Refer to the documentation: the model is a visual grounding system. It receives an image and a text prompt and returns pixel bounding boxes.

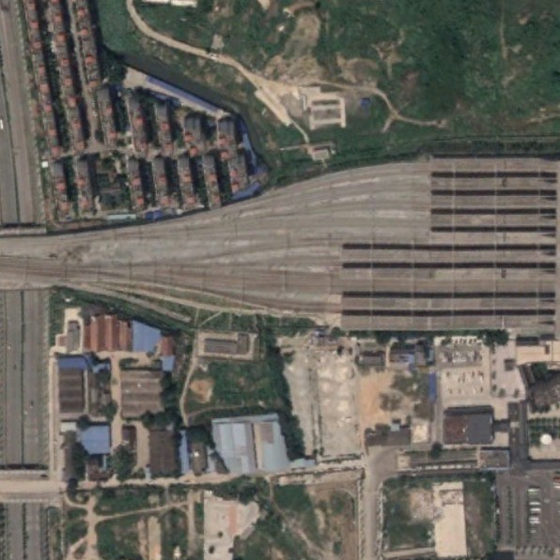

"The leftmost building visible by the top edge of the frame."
[20,0,62,155]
